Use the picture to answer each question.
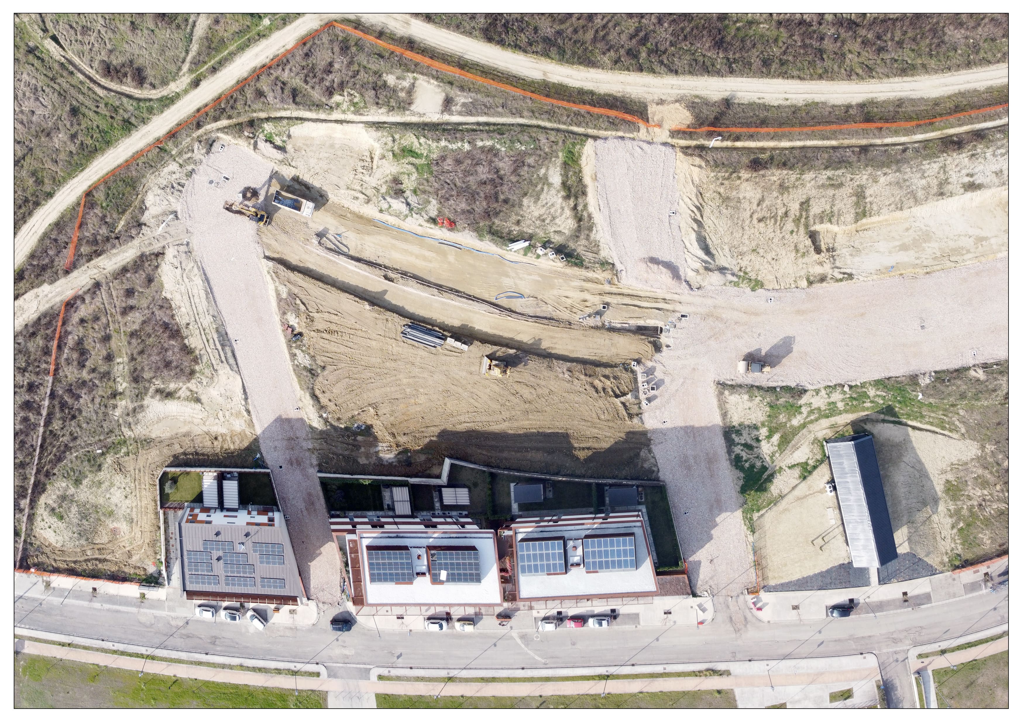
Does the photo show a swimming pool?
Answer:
No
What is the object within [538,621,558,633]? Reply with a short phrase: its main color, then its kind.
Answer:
white vehicle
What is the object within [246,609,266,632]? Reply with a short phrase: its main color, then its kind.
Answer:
white car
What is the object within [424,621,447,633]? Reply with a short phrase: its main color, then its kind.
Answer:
white vehicle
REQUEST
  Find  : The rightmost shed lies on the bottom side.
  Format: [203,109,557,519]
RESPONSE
[824,431,897,567]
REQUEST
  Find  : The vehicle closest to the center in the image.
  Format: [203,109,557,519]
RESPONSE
[484,361,509,380]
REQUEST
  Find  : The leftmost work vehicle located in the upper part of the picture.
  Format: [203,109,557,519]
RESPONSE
[227,201,270,229]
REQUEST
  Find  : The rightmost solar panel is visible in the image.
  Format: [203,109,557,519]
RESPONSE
[584,538,635,570]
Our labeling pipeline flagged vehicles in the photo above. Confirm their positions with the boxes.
[739,362,768,376]
[329,622,352,633]
[567,619,584,630]
[270,192,313,219]
[538,621,558,633]
[246,609,266,632]
[454,622,474,633]
[195,609,216,621]
[424,621,447,633]
[484,361,509,380]
[828,606,851,618]
[219,612,242,623]
[227,201,270,229]
[588,617,611,628]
